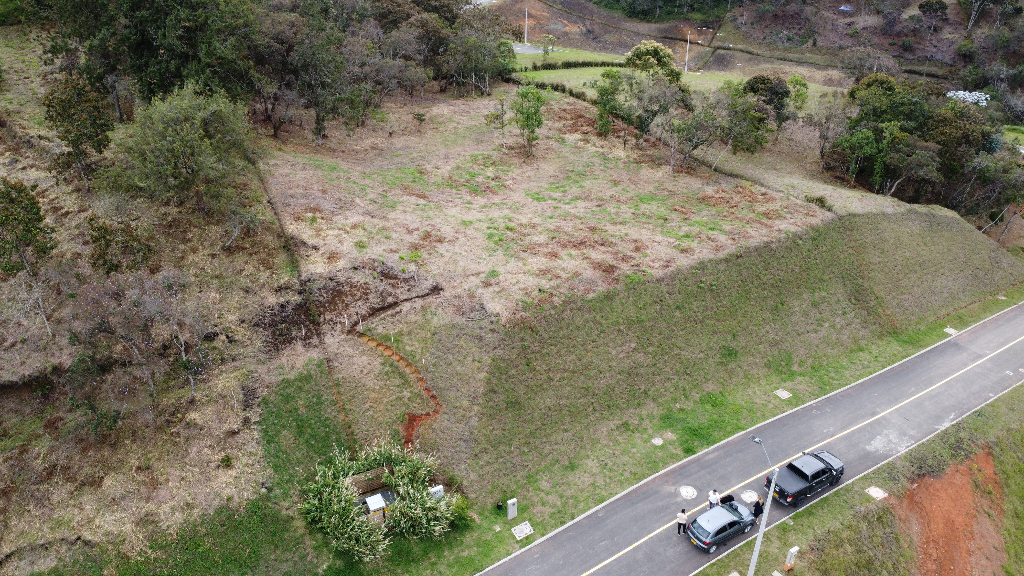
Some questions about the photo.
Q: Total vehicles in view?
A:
2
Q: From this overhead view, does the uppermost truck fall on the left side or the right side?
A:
right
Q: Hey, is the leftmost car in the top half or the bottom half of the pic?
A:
bottom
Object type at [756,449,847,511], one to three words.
truck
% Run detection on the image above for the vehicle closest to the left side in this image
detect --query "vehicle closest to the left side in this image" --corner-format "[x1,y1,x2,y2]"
[684,500,757,556]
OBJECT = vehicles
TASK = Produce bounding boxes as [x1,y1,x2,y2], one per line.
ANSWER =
[756,449,847,511]
[684,500,757,556]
